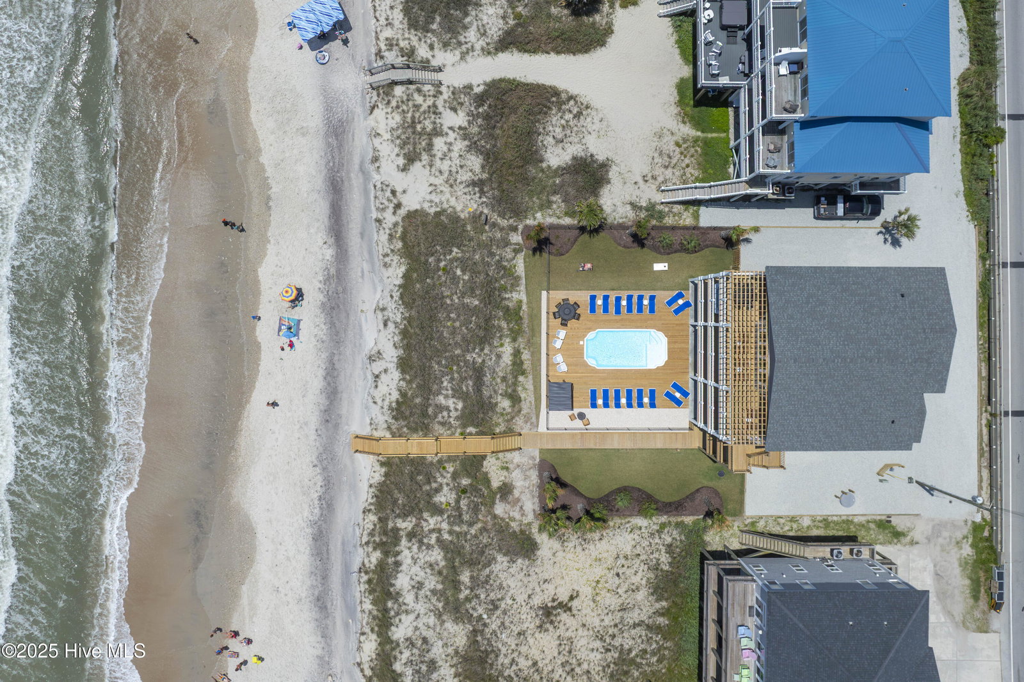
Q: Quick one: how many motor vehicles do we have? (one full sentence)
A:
The photo contains exactly 1 motor vehicle.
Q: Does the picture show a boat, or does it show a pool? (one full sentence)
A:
It is a pool that can be seen here.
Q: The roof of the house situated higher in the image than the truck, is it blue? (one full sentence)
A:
Yes, the roof of the house situated higher in the image than the truck is indeed blue.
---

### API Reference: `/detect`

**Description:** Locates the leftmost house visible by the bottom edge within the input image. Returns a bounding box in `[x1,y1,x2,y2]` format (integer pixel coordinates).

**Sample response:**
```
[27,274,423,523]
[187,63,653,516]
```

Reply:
[697,543,940,682]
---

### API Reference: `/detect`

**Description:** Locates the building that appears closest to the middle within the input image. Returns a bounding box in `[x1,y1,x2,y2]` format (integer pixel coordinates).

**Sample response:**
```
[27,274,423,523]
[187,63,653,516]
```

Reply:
[548,381,573,411]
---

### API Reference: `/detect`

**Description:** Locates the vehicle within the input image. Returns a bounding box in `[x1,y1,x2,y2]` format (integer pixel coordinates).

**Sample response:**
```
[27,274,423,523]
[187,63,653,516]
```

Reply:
[814,195,880,218]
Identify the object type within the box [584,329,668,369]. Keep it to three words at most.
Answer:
swimming pool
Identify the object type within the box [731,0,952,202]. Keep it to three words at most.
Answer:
house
